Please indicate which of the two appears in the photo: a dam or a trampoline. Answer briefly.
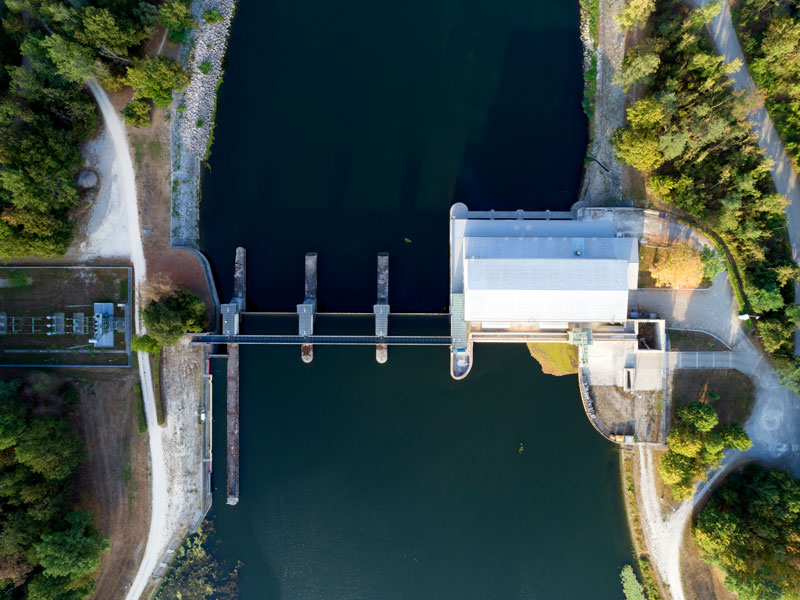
dam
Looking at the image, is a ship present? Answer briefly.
No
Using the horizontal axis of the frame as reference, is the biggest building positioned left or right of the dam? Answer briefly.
to the right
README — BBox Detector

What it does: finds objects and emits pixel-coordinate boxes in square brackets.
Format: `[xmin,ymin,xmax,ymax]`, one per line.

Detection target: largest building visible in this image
[446,203,640,380]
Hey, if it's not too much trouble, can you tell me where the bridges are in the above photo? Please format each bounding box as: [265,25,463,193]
[186,331,451,346]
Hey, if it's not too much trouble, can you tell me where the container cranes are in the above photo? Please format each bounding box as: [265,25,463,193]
[566,327,593,363]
